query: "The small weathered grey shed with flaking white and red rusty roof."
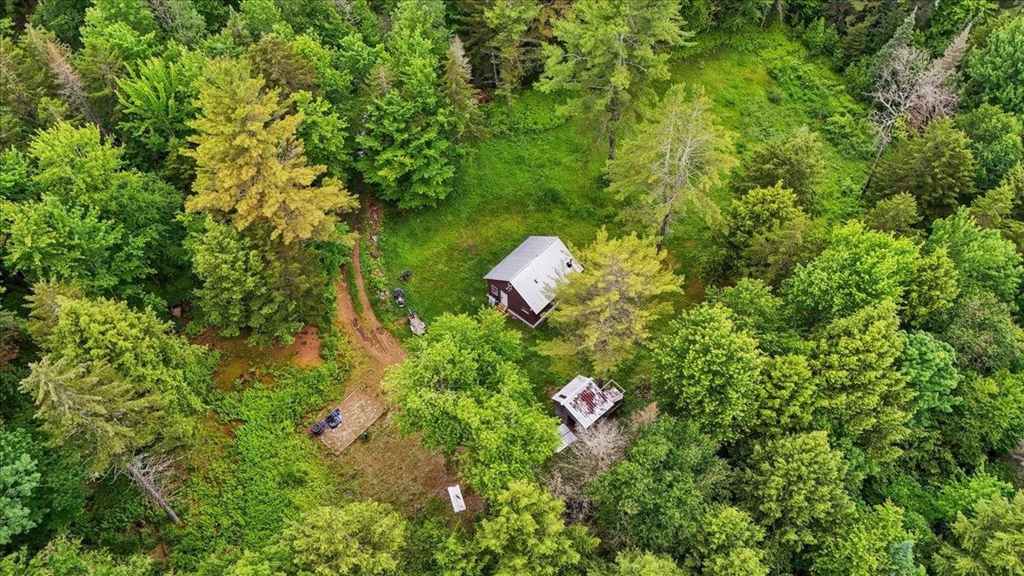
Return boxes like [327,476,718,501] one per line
[553,375,626,441]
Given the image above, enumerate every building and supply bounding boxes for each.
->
[553,375,626,441]
[484,235,583,329]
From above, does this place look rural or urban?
rural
